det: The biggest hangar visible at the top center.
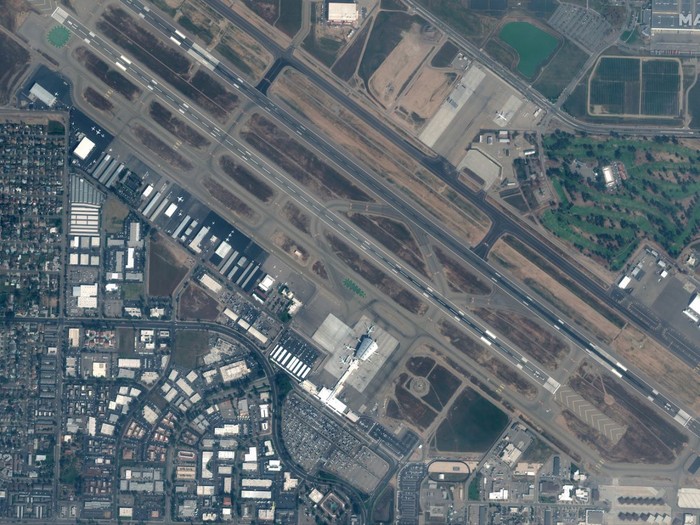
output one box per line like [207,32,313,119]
[328,1,358,22]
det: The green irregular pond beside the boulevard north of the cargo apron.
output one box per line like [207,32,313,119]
[500,22,558,79]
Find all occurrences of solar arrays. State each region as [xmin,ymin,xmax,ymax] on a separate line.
[588,56,684,118]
